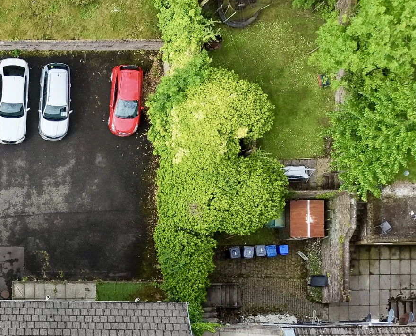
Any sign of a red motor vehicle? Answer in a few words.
Yes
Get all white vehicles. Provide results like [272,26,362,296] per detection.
[37,62,76,142]
[0,57,31,144]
